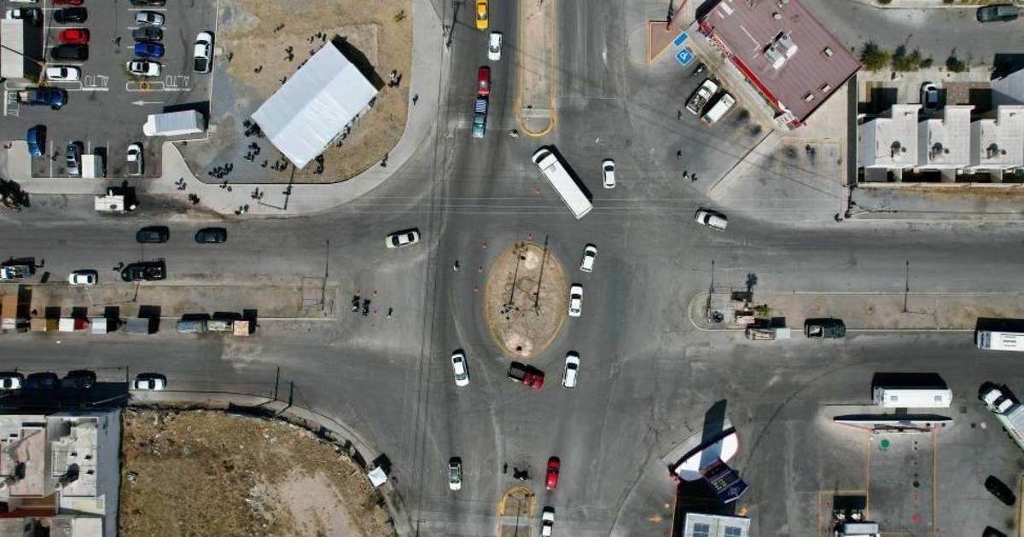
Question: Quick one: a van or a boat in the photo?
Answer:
van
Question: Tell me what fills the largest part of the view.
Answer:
paved ground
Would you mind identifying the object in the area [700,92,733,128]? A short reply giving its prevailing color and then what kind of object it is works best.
white van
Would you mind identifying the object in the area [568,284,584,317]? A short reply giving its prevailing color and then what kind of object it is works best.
white car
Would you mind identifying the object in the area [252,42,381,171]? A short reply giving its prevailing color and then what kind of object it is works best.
white tent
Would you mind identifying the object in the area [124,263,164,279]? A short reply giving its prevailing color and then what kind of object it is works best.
black vehicle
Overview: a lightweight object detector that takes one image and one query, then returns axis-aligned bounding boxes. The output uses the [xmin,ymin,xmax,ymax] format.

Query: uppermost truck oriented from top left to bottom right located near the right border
[976,394,1024,453]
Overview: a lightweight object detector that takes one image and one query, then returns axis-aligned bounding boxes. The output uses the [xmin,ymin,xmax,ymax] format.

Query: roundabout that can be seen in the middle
[484,241,570,358]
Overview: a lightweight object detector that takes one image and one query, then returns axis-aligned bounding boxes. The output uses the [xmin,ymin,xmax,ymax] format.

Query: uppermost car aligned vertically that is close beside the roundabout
[580,244,597,273]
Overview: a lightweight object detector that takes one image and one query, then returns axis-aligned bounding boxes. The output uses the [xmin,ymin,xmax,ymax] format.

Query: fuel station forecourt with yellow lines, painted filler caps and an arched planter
[755,404,1024,537]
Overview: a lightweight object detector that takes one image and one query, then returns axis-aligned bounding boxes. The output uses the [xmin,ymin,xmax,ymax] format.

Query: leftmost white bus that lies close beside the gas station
[874,385,952,409]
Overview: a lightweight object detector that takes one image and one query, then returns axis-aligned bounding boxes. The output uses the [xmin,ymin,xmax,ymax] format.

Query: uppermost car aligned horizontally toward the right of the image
[979,5,1015,21]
